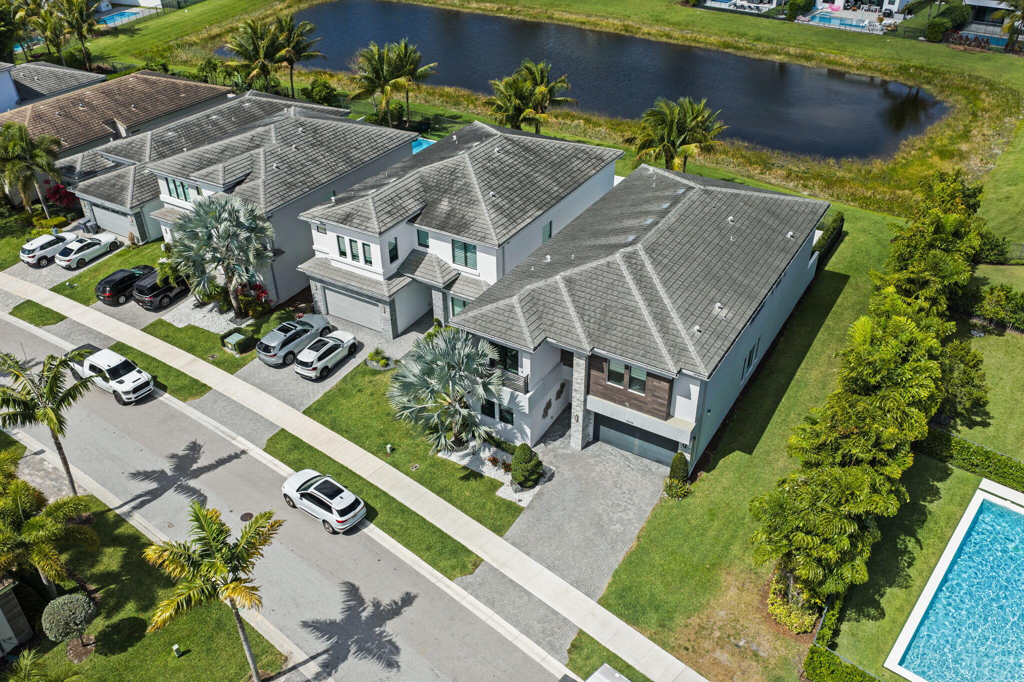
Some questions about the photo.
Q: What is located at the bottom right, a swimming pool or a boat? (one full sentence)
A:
The one visible at the bottom right is a swimming pool.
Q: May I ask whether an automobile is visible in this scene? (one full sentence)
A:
Yes, an automobile is visible in the scene.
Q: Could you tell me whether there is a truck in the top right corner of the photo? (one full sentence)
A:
No, the scene shows no truck in the top right corner of the photo.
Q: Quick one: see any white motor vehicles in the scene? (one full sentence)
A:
Yes, the image includes a white motor vehicle.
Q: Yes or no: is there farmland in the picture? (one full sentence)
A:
No, there is no farmland in the image.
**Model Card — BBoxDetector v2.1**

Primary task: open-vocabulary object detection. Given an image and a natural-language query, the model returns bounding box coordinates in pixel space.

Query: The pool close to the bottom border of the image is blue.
[884,488,1024,682]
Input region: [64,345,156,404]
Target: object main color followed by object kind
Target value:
white truck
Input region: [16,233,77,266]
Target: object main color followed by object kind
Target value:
white car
